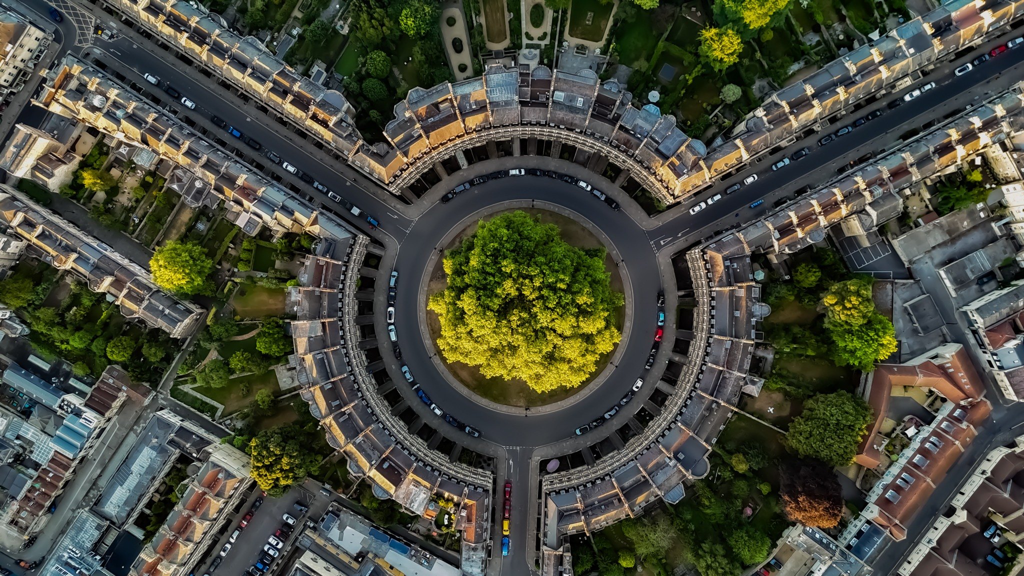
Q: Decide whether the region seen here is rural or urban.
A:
urban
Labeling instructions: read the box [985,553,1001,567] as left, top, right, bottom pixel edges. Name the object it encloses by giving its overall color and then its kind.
blue car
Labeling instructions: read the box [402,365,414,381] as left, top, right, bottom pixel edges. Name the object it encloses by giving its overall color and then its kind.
blue vehicle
